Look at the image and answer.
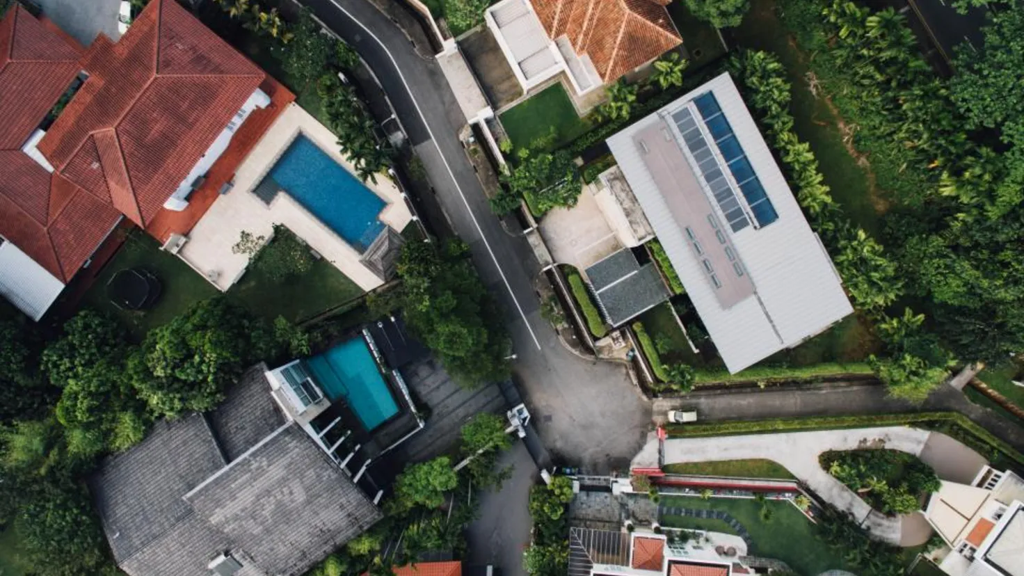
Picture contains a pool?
Yes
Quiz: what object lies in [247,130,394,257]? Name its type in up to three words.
swimming pool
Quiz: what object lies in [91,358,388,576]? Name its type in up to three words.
house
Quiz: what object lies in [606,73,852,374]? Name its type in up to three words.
house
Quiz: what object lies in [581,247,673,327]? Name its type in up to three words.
building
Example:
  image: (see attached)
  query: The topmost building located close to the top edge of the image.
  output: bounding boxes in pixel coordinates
[485,0,683,102]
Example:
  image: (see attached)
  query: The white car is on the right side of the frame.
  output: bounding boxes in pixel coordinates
[667,409,696,423]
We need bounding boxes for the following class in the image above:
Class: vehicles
[667,409,696,423]
[117,0,134,33]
